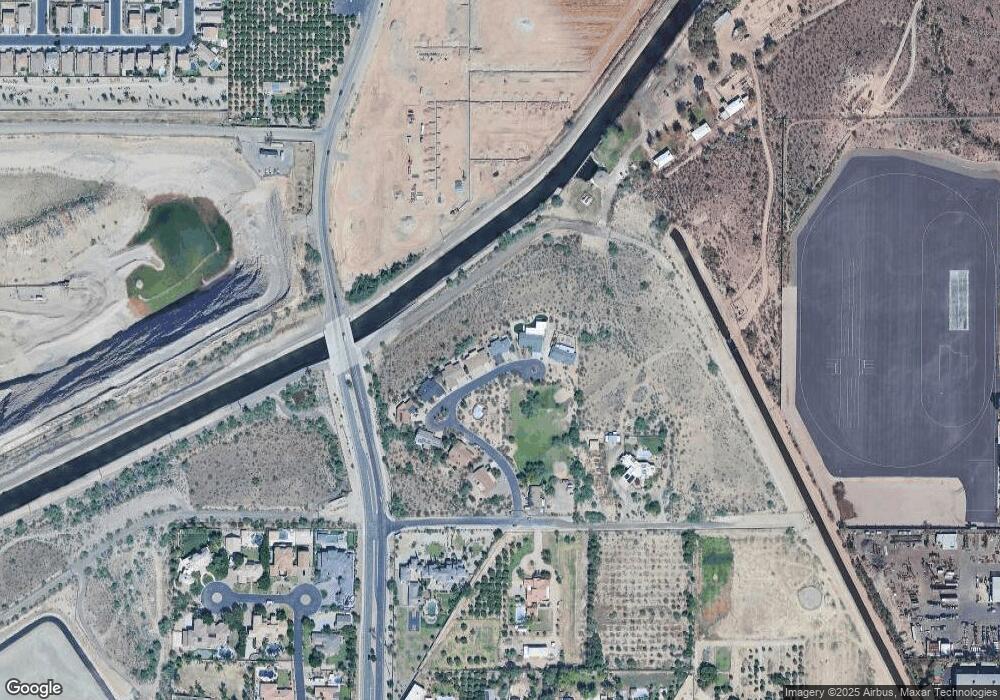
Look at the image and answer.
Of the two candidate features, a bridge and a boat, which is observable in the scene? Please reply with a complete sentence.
I can see a bridge in this picture.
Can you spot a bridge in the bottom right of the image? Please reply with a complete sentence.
No, the scene shows no bridge in the bottom right of the image.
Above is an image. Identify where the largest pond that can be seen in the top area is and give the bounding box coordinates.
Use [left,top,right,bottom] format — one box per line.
[127,196,232,313]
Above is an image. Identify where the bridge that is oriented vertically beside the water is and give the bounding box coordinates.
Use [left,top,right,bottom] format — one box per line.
[325,316,362,377]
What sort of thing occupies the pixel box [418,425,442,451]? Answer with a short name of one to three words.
house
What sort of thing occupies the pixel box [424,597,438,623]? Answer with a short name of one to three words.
swimming pool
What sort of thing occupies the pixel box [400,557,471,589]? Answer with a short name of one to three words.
house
